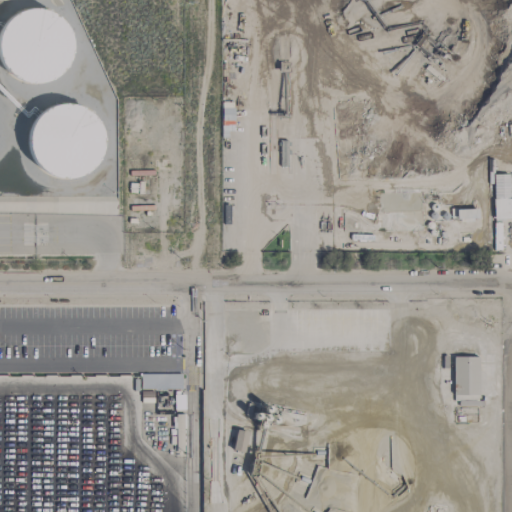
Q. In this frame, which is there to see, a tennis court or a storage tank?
storage tank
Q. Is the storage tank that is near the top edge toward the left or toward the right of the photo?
left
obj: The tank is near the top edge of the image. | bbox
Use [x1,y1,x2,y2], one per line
[0,8,76,86]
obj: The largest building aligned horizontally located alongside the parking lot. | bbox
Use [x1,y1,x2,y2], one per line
[142,374,184,389]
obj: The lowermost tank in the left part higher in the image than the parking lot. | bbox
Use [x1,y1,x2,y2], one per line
[28,104,107,182]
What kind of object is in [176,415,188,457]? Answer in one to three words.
shed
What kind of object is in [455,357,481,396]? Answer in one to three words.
building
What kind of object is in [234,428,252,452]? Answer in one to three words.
shed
